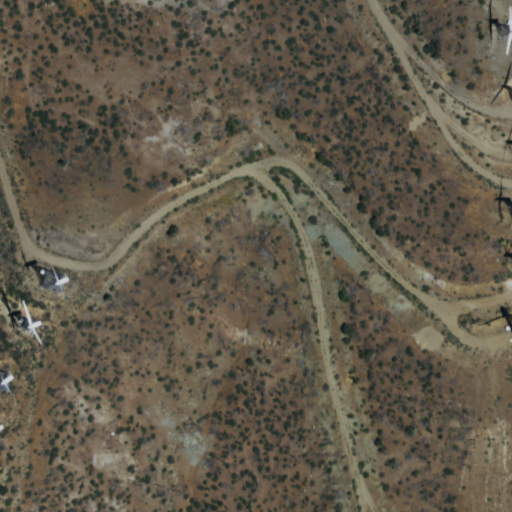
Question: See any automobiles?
No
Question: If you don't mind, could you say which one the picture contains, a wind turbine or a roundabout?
wind turbine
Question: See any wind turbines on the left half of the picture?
Yes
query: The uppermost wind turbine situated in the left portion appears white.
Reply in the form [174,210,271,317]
[43,266,68,296]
